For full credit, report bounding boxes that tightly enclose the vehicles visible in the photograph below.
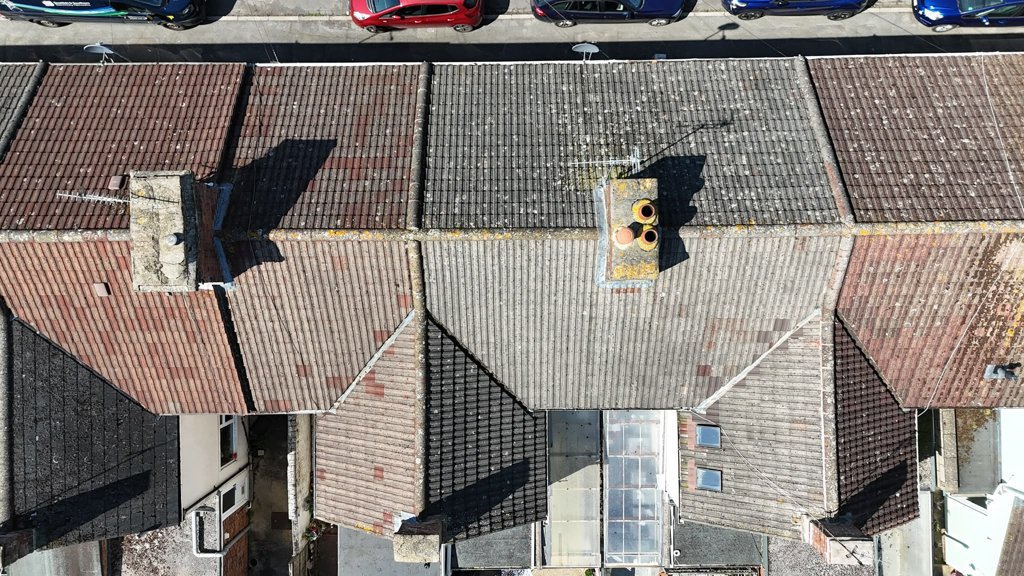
[0,0,211,29]
[531,0,686,28]
[910,0,1024,34]
[721,0,875,22]
[349,0,483,34]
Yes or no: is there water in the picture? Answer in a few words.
No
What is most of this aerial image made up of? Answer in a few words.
buildings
